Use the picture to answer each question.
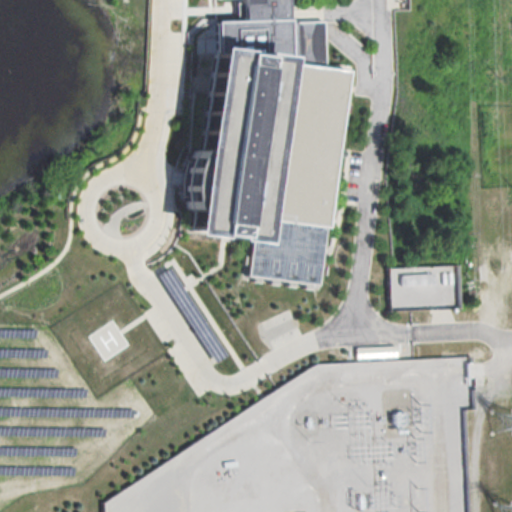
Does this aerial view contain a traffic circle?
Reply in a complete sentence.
Yes, there's a traffic circle here.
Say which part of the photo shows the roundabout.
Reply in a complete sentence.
The roundabout is located in the left region of the scene.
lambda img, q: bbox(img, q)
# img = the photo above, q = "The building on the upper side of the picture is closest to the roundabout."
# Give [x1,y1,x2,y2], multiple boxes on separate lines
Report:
[184,0,352,290]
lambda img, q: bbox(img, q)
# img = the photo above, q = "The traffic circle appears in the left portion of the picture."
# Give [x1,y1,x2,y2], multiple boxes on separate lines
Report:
[83,174,159,250]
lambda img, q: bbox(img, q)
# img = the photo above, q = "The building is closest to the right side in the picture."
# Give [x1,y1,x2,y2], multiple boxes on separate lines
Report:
[390,266,462,310]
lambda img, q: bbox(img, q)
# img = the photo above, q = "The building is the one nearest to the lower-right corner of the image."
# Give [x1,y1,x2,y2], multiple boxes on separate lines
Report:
[356,346,398,360]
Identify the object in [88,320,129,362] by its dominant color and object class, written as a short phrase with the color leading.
white helipad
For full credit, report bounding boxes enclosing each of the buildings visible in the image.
[356,346,398,360]
[390,266,462,310]
[184,0,352,290]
